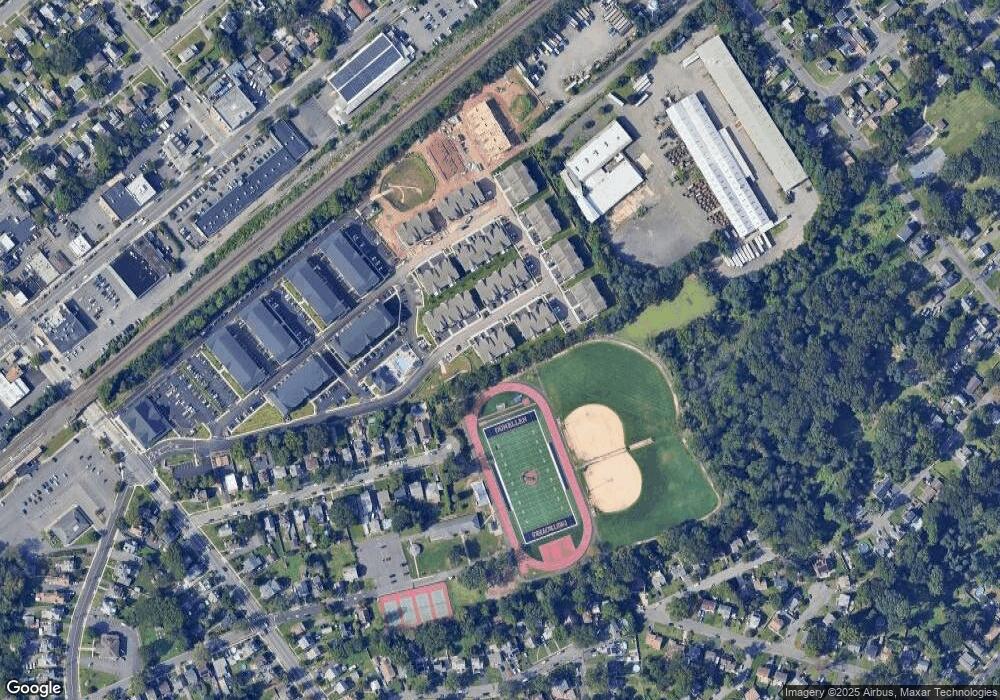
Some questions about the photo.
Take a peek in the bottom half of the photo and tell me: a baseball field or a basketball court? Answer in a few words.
baseball field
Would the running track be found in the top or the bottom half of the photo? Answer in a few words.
bottom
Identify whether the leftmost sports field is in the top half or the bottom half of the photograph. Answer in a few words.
bottom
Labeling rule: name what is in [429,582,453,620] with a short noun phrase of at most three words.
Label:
tennis court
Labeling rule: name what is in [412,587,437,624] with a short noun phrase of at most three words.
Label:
tennis court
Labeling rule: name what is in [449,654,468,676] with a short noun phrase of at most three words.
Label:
house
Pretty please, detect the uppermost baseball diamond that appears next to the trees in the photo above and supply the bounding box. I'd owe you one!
[537,341,681,467]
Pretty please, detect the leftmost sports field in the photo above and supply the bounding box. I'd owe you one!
[477,396,585,558]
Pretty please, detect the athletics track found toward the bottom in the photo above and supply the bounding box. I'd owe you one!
[465,388,594,574]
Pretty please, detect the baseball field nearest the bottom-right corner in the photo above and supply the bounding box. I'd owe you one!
[576,436,718,547]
